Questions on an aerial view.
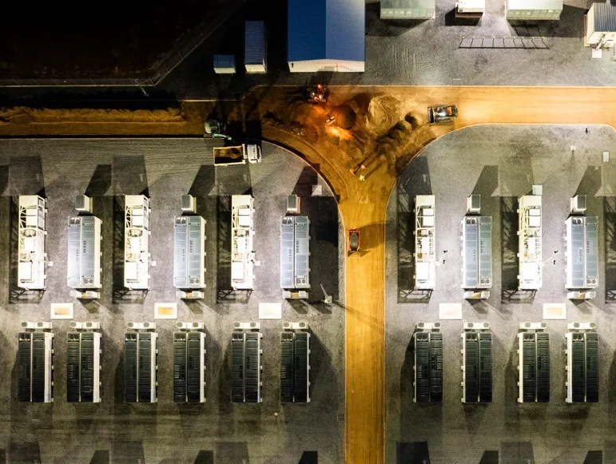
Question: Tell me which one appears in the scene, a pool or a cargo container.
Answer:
cargo container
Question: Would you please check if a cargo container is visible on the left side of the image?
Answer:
Yes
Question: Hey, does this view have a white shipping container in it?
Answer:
Yes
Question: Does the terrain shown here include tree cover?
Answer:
No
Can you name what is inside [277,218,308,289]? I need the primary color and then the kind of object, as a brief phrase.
white shipping container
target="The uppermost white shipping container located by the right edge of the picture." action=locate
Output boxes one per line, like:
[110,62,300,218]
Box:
[562,218,596,289]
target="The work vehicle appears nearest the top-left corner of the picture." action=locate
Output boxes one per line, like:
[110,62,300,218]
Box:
[201,116,241,141]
